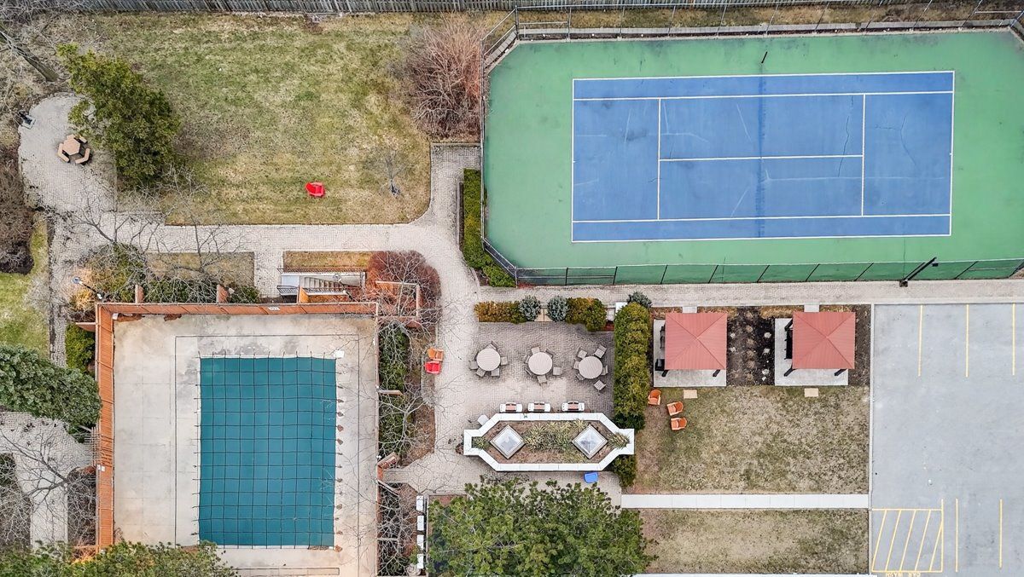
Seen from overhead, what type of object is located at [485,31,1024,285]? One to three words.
tennis court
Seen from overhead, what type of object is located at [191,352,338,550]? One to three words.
swimming pool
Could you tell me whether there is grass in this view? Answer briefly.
Yes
